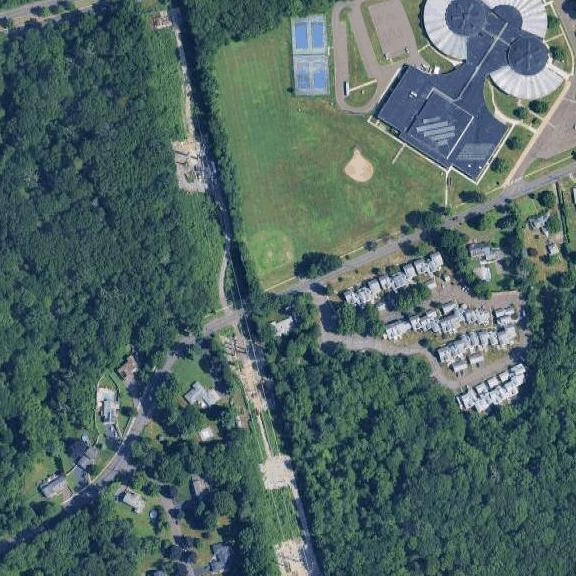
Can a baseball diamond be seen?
Yes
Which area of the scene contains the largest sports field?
top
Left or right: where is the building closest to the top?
right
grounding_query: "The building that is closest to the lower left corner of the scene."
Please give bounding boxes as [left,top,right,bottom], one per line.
[39,473,69,497]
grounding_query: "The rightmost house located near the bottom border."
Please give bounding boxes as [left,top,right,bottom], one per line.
[211,542,231,572]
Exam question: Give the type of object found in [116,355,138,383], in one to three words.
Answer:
house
